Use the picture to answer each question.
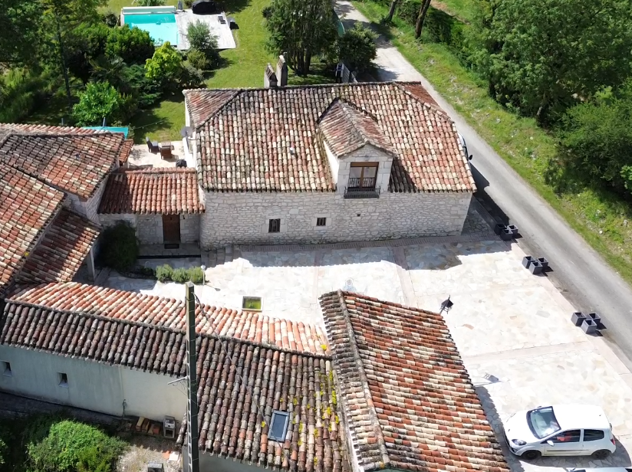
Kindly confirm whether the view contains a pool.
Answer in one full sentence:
Yes, the photo shows a pool.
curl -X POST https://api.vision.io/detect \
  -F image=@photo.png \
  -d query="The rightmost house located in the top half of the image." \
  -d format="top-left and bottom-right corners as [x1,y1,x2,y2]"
[181,51,474,243]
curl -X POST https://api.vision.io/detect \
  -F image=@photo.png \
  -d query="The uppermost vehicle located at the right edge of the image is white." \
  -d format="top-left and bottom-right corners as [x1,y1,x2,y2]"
[502,399,622,460]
